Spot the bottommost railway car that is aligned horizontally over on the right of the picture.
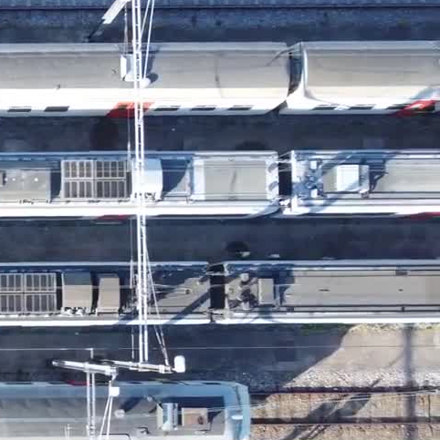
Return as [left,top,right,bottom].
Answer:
[209,261,440,325]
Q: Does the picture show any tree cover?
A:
No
